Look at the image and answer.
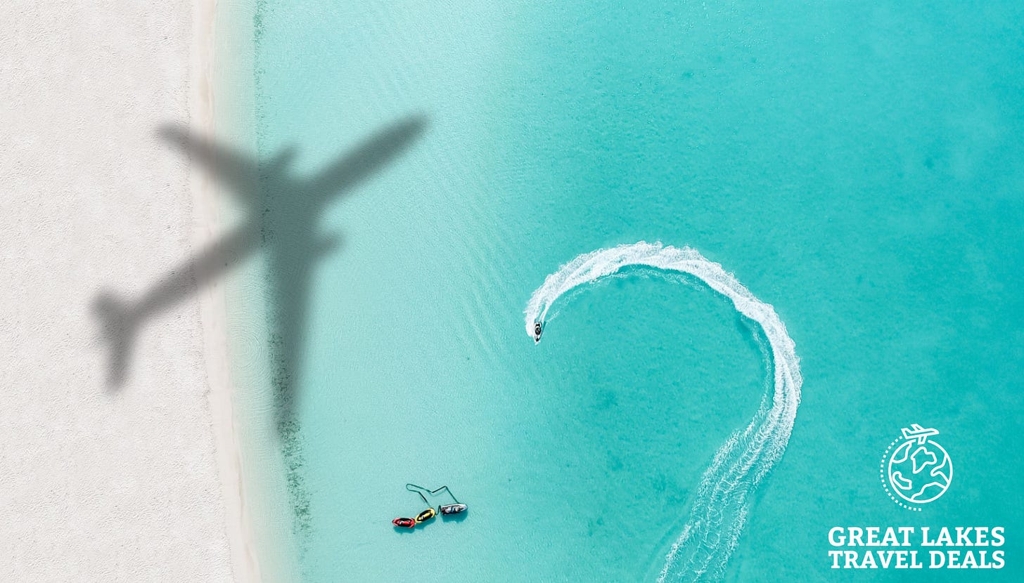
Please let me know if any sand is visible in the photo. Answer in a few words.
Yes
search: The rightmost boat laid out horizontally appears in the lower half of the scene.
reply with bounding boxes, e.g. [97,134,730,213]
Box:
[440,504,467,516]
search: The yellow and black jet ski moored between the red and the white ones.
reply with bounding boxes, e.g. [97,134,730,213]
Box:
[415,508,436,524]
